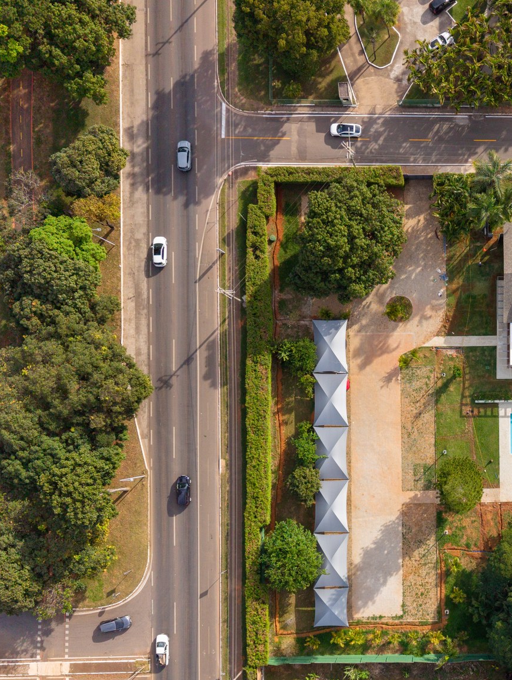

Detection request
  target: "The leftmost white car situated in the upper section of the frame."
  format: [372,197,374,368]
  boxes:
[153,239,168,265]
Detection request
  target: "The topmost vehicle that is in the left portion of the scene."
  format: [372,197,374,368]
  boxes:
[177,142,192,171]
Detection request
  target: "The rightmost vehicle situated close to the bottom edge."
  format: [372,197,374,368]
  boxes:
[154,635,169,666]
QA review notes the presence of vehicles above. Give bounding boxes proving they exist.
[154,635,169,666]
[175,475,192,503]
[332,122,361,137]
[425,31,453,54]
[177,142,192,171]
[153,239,168,265]
[428,0,456,14]
[98,615,130,634]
